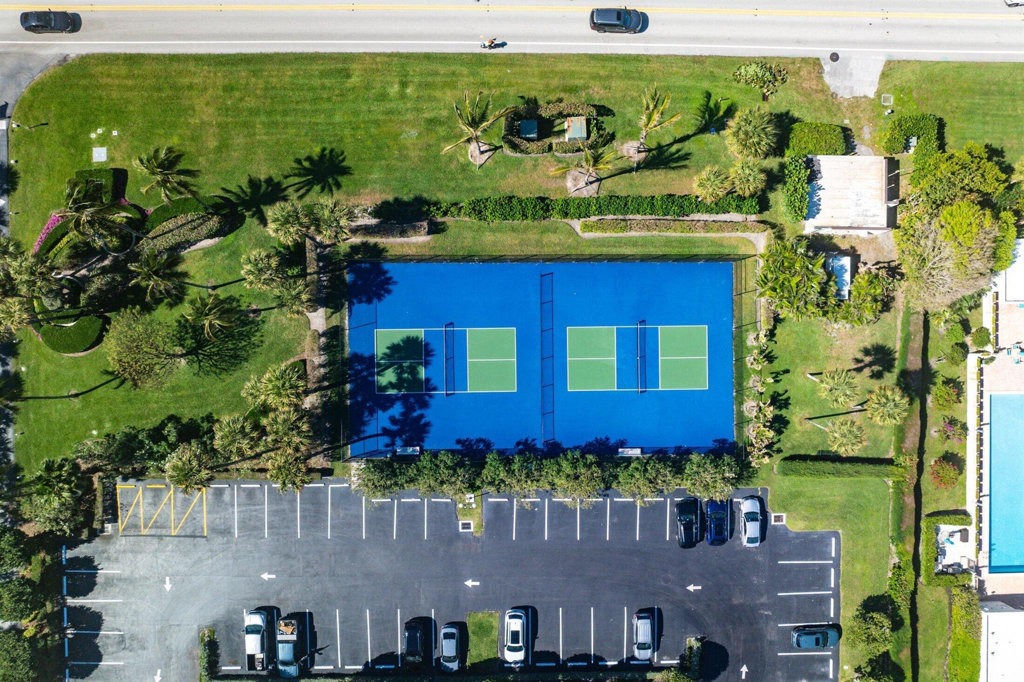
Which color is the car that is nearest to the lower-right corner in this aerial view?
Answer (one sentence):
In this view, the car that is nearest to the lower-right corner is blue.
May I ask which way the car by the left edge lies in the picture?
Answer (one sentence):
The car by the left edge is laid out horizontally.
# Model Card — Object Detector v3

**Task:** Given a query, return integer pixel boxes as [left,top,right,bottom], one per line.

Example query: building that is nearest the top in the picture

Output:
[791,156,903,235]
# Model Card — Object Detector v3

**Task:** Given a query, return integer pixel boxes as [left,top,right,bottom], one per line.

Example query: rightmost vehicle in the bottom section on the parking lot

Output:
[789,625,840,652]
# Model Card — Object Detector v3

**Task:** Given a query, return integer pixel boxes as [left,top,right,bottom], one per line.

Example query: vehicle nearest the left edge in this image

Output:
[21,9,76,35]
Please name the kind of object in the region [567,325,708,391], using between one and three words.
sports court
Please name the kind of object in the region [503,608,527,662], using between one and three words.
car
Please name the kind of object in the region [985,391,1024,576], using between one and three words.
swimming pool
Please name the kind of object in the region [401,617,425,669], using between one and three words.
car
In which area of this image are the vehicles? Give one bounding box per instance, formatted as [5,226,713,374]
[241,609,269,673]
[704,497,730,547]
[674,499,699,549]
[789,625,840,652]
[738,496,763,548]
[503,608,527,662]
[438,622,461,672]
[21,9,76,35]
[273,617,300,677]
[401,617,425,669]
[632,611,656,660]
[589,6,641,35]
